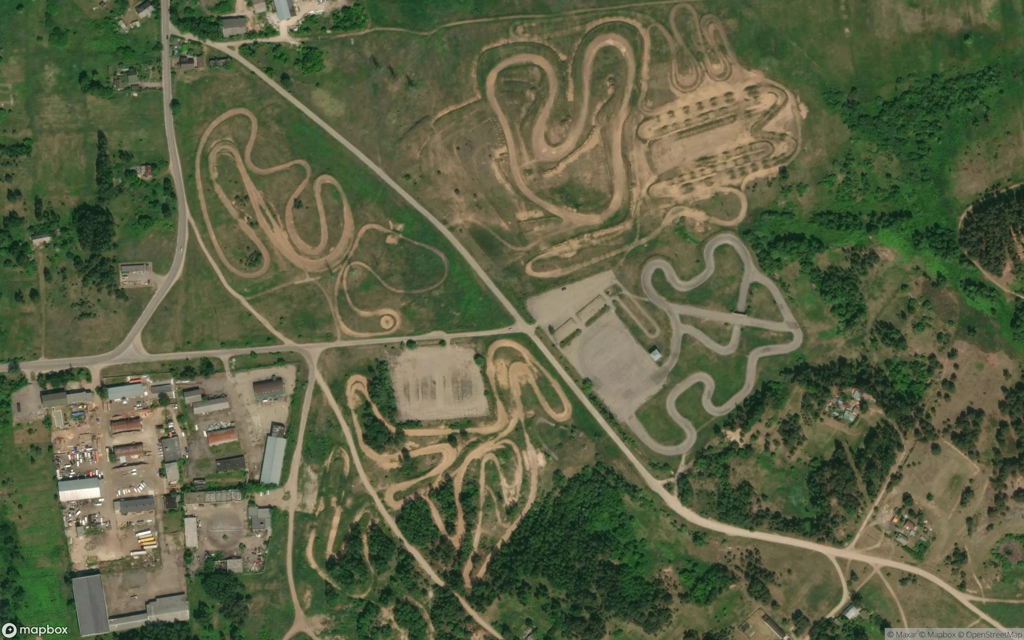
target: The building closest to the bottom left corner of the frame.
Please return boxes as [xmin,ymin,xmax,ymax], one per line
[71,574,109,637]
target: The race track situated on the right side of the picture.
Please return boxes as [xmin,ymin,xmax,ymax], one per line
[622,234,803,455]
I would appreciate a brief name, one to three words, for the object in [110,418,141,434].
shed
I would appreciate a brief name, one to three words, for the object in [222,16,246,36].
house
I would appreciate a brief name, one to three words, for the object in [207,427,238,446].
barn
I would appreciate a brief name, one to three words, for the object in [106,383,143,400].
building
